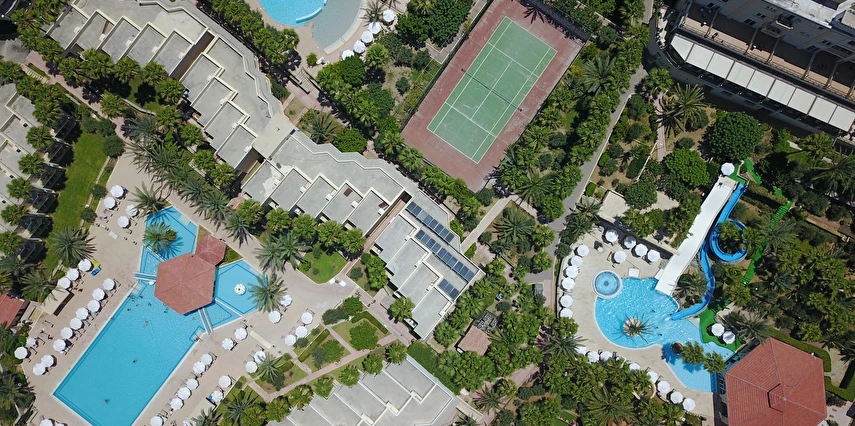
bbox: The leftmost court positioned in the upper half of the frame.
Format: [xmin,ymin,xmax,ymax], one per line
[401,0,586,193]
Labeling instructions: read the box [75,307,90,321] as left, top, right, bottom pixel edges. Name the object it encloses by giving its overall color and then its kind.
white umbrella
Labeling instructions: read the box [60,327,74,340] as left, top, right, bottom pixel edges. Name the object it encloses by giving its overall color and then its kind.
white umbrella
